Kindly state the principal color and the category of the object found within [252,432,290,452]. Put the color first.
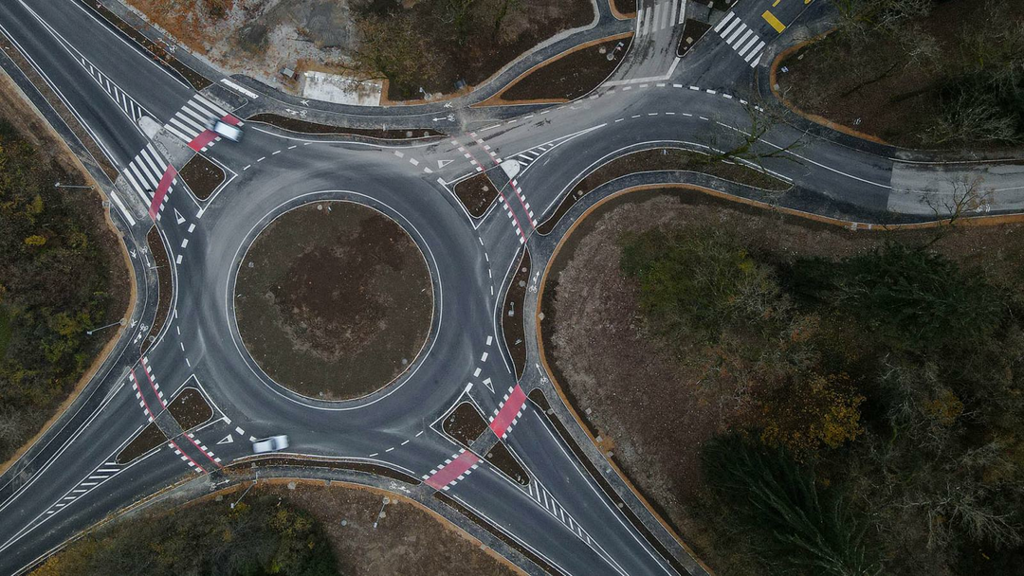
white car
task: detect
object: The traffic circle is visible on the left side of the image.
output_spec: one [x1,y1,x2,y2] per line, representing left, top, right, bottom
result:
[173,140,495,455]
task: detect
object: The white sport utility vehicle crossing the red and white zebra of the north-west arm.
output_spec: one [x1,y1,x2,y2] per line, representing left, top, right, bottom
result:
[207,116,247,144]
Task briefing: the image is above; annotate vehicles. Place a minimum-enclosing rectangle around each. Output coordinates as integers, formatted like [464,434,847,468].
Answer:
[207,116,247,144]
[252,432,290,452]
